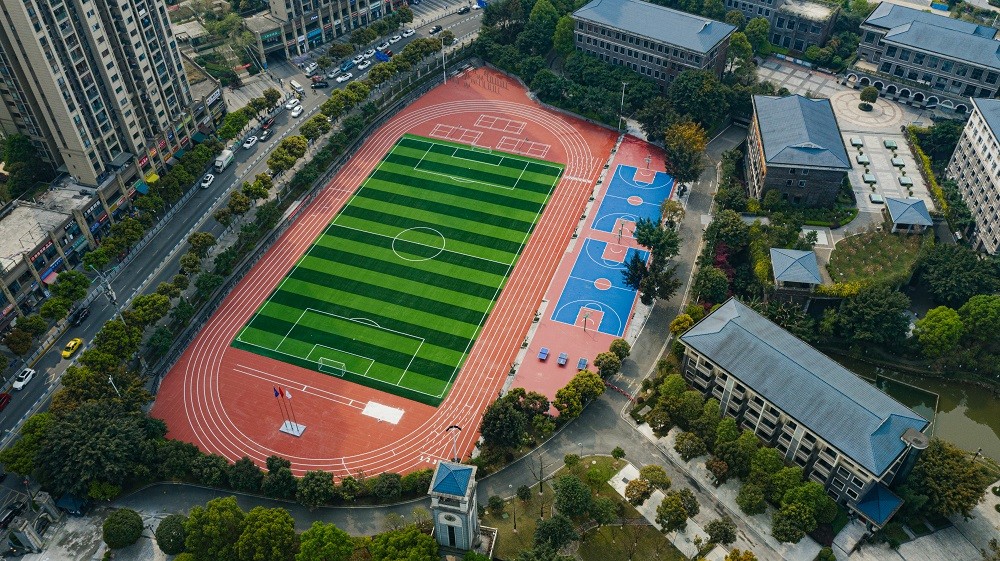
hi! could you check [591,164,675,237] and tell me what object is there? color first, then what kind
blue basketball court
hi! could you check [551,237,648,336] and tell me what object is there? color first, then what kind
blue basketball court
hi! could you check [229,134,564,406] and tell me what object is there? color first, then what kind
green soccer field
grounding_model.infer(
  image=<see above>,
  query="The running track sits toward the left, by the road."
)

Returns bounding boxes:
[153,68,623,491]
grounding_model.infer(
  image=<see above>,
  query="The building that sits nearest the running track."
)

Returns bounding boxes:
[433,465,478,547]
